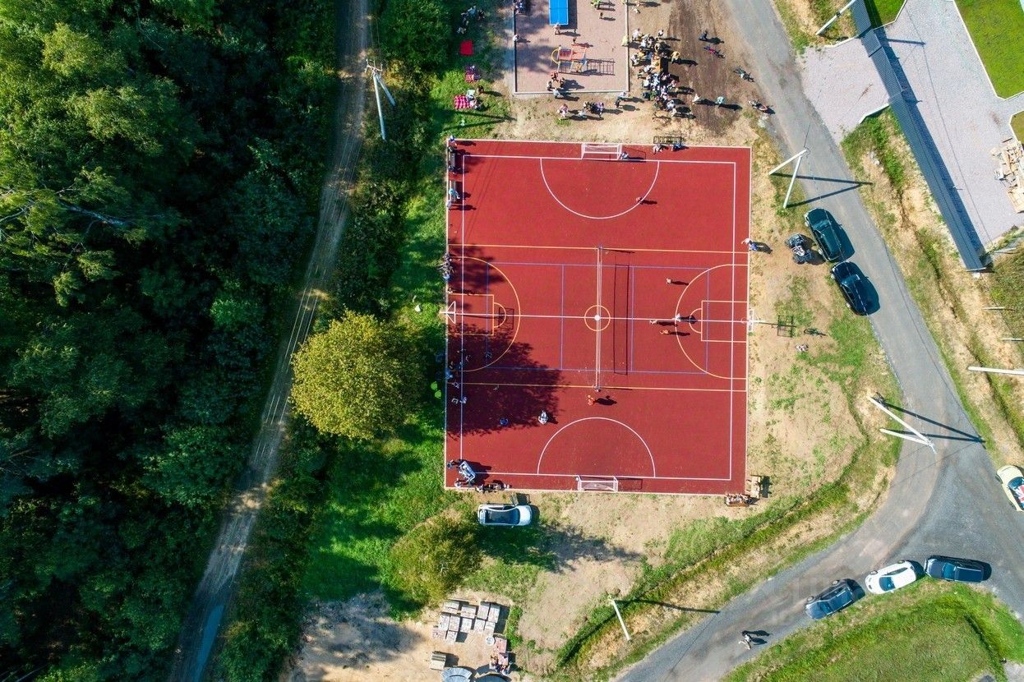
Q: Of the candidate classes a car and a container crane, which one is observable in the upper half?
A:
car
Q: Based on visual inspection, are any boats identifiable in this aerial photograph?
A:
No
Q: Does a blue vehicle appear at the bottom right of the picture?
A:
Yes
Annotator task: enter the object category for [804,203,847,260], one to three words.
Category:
car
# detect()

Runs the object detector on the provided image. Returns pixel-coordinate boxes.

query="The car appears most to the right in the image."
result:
[999,465,1024,513]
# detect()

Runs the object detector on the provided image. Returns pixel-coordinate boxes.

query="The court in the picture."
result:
[442,137,753,498]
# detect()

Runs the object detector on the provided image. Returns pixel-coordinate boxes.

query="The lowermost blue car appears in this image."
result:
[806,580,860,623]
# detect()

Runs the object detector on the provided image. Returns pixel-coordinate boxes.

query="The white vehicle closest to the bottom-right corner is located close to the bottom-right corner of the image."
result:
[869,562,920,597]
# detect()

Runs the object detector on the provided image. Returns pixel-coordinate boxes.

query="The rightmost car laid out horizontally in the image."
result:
[926,553,989,583]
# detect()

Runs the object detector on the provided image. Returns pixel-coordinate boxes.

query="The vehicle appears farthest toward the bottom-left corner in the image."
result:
[478,492,531,530]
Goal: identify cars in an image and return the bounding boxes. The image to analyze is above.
[478,492,531,530]
[804,203,847,260]
[999,465,1024,513]
[926,553,989,583]
[833,260,874,312]
[869,562,920,597]
[806,580,860,623]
